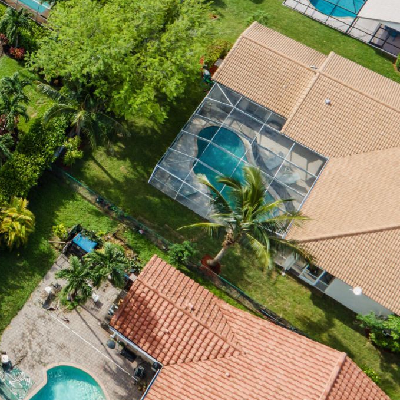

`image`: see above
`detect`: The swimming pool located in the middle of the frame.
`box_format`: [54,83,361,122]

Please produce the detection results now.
[190,122,278,215]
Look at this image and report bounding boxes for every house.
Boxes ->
[352,0,400,60]
[106,254,391,400]
[209,21,400,315]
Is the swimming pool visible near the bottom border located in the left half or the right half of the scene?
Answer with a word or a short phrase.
left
